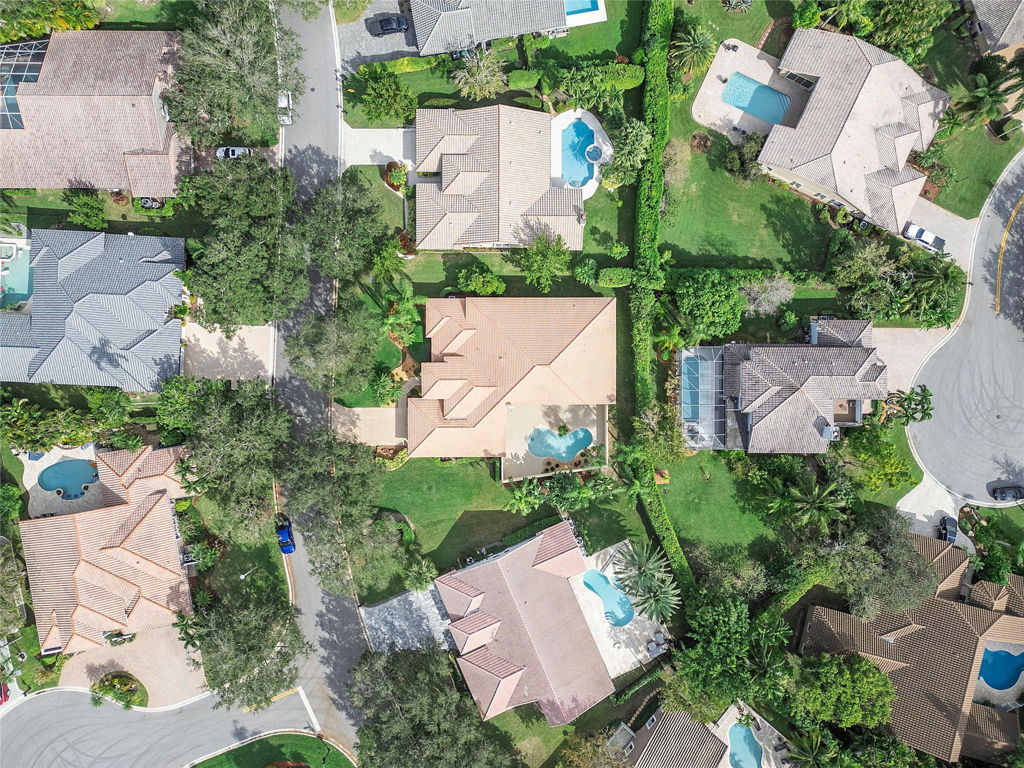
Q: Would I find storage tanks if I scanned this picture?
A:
No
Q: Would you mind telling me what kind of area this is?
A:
residential area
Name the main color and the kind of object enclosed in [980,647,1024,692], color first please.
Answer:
blue swimming pool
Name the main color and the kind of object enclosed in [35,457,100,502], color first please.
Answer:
blue swimming pool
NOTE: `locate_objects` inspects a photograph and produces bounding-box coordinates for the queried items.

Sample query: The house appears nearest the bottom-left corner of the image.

[19,445,200,655]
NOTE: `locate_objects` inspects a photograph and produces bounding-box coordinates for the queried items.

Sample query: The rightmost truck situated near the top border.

[365,16,411,40]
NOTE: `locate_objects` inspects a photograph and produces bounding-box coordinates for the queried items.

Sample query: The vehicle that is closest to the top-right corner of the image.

[901,223,948,256]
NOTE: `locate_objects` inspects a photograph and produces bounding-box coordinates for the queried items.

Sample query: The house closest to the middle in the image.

[407,297,617,458]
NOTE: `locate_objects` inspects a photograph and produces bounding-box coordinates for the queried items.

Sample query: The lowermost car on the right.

[935,511,959,546]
